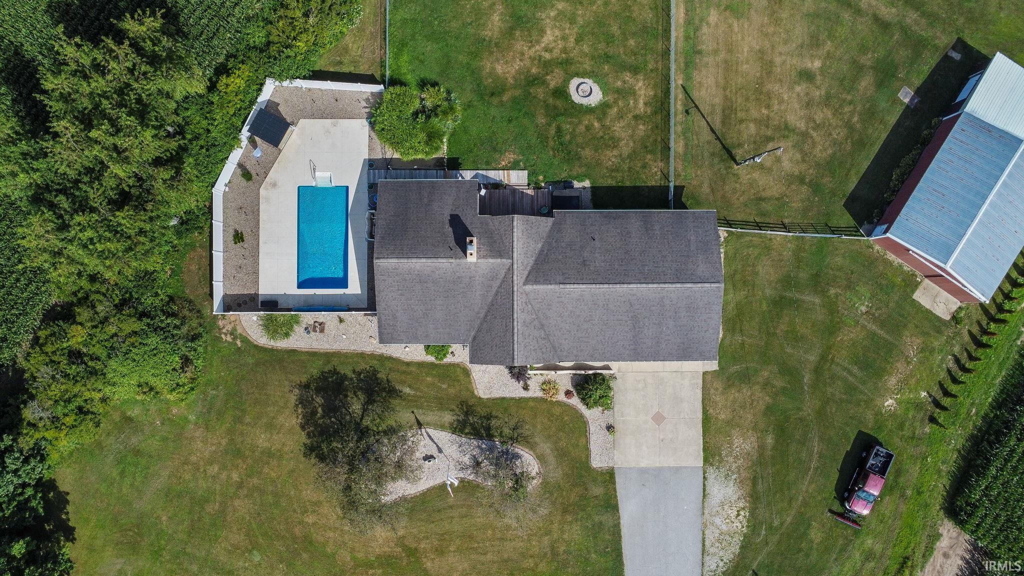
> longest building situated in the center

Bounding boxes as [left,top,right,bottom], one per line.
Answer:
[371,179,726,369]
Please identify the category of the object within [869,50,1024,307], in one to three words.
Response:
barn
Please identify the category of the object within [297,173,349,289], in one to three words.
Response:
swimming pool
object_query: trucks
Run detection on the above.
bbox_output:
[829,442,897,527]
